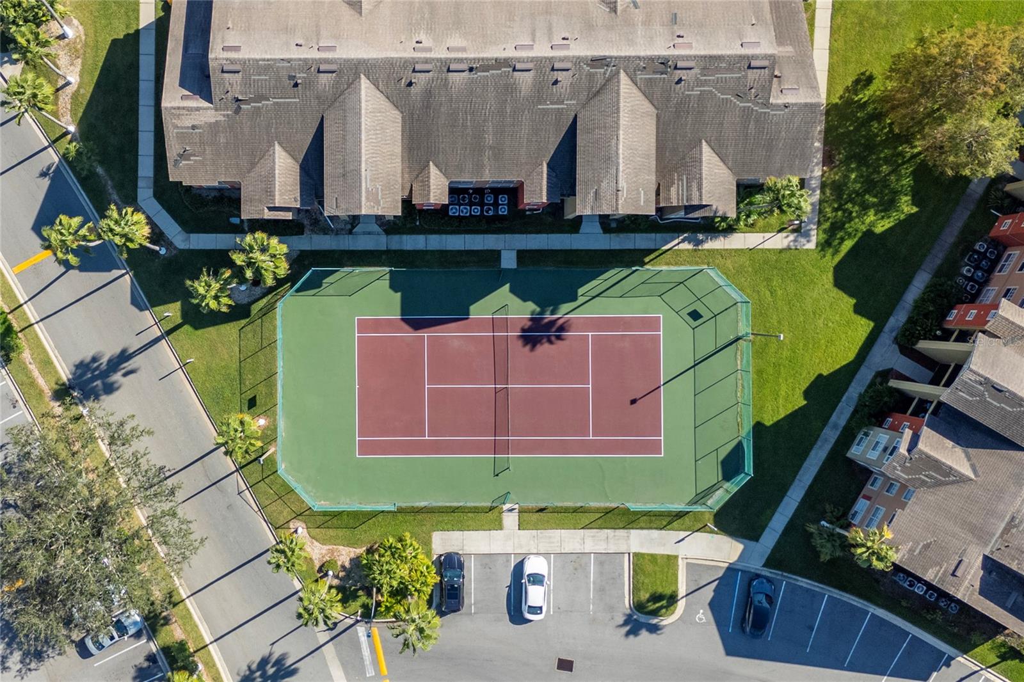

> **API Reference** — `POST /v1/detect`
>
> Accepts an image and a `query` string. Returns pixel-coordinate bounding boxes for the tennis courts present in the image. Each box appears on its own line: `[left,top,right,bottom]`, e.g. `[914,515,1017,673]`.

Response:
[282,269,741,503]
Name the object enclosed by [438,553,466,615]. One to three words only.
car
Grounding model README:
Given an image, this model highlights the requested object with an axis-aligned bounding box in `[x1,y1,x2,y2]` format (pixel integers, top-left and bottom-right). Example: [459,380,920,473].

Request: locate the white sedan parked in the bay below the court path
[522,556,551,622]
